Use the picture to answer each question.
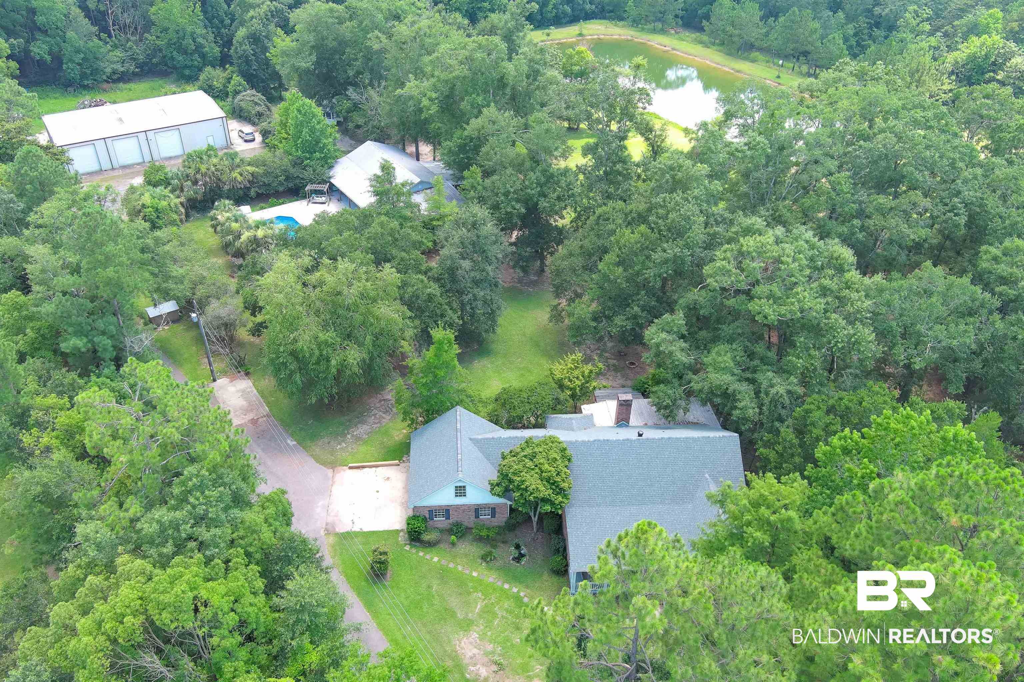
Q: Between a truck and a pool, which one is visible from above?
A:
pool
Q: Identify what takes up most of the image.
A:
trees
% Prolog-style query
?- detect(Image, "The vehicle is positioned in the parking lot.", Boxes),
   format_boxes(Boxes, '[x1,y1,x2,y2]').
[237,128,253,143]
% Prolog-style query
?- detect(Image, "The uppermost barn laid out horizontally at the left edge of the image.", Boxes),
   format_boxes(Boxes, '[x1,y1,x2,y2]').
[41,88,231,178]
